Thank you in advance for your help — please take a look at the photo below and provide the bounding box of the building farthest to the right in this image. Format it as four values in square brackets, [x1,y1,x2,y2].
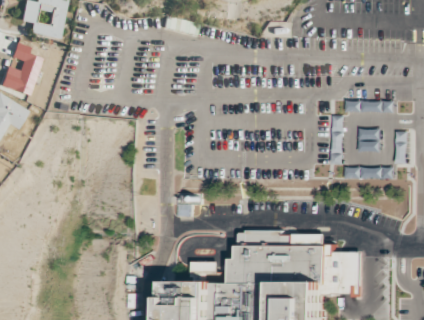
[394,130,409,164]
